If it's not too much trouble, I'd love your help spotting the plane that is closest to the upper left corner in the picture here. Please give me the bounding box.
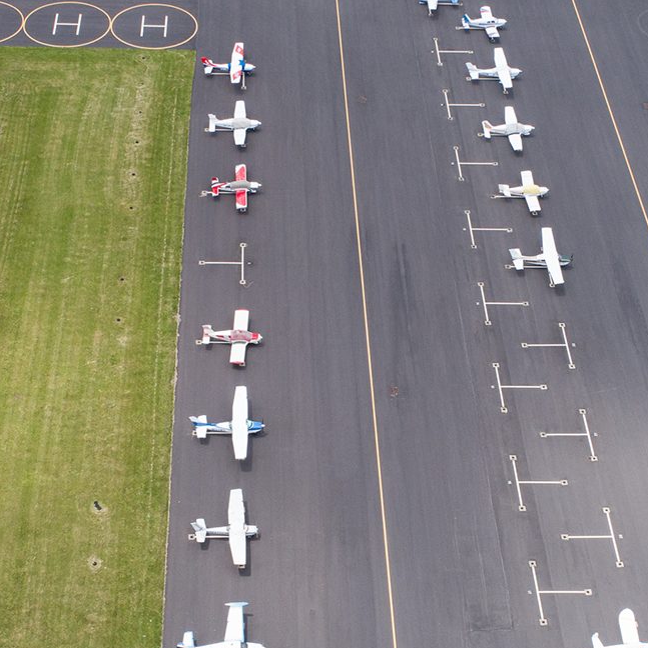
[201,42,256,82]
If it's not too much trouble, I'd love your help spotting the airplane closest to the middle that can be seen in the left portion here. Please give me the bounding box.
[202,310,262,365]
